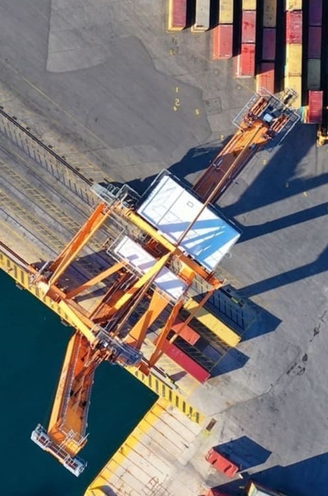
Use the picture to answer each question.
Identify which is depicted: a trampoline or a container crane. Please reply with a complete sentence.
It is a container crane that can be seen here.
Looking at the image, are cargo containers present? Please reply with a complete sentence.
Yes, I can see a cargo container in this picture.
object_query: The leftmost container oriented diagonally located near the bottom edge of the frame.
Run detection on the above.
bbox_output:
[204,443,239,474]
